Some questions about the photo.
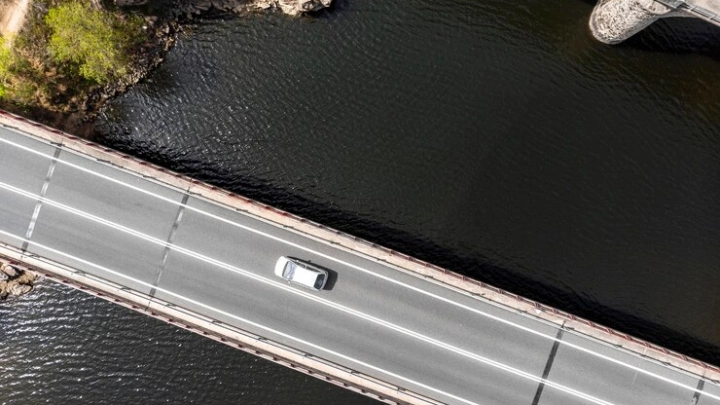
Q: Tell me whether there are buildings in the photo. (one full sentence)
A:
No, I can't see a single building in this photo.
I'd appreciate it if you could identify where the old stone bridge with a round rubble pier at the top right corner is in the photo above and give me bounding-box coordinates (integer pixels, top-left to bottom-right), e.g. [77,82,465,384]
[589,0,720,45]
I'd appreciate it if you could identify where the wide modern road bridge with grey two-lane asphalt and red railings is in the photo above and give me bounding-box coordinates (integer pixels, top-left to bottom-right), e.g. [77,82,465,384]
[0,107,720,405]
